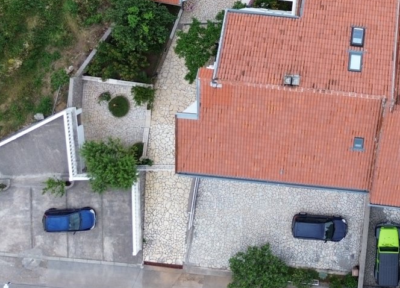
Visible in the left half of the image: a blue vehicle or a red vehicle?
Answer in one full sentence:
Visible in the left half of the image is a blue vehicle.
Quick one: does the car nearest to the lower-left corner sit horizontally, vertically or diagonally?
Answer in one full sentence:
The car nearest to the lower-left corner is laid out horizontally.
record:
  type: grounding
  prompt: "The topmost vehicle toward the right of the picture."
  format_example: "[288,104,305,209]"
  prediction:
[290,211,348,243]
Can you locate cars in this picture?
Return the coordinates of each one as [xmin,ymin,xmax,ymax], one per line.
[40,204,98,235]
[373,226,400,288]
[290,211,348,243]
